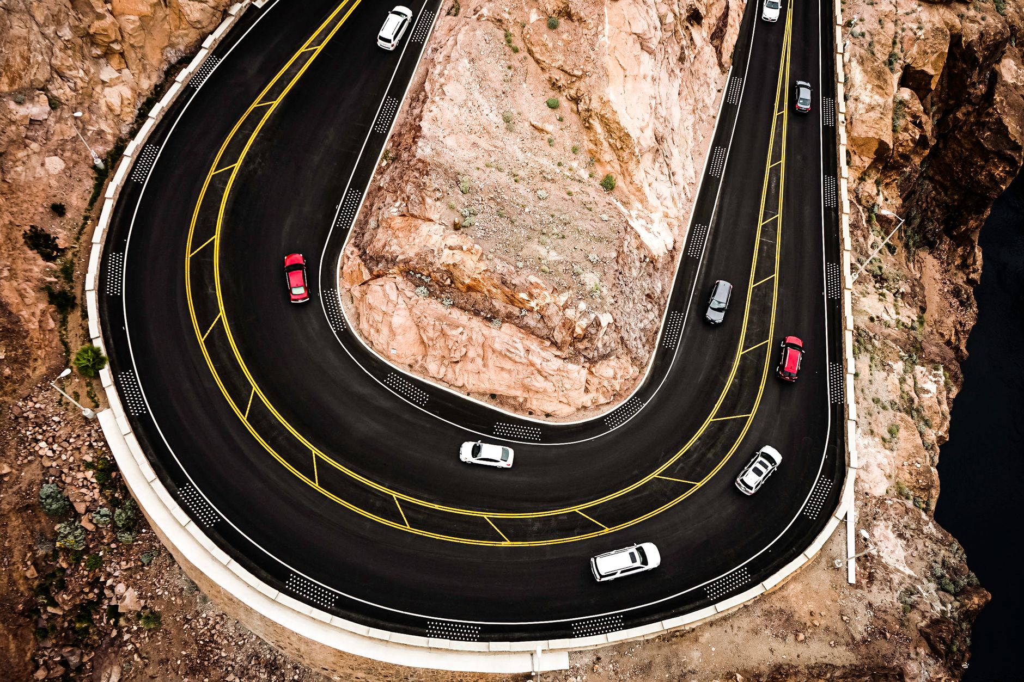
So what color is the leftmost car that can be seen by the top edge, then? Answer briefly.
white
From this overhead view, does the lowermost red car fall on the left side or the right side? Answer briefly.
right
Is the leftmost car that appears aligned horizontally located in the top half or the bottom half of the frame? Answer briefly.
bottom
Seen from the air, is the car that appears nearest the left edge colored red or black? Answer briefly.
red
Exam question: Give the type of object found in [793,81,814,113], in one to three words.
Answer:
car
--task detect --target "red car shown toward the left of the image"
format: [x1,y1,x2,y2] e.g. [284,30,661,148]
[284,255,311,305]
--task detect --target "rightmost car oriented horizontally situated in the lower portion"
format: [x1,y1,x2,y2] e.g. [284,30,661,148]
[591,544,660,581]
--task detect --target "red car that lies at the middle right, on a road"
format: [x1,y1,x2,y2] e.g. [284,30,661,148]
[777,336,806,382]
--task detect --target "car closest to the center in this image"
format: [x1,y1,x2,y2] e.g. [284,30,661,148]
[459,440,515,469]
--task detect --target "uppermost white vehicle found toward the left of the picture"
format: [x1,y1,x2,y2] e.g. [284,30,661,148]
[376,7,412,51]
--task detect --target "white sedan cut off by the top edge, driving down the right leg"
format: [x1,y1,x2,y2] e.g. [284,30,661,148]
[762,0,782,22]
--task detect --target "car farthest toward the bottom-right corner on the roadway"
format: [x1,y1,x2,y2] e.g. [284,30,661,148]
[736,447,781,496]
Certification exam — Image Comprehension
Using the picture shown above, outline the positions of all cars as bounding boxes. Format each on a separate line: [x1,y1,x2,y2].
[762,0,782,22]
[793,81,814,113]
[736,447,781,496]
[591,544,660,581]
[705,278,733,325]
[459,440,515,469]
[777,336,806,382]
[376,7,412,51]
[284,255,311,305]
